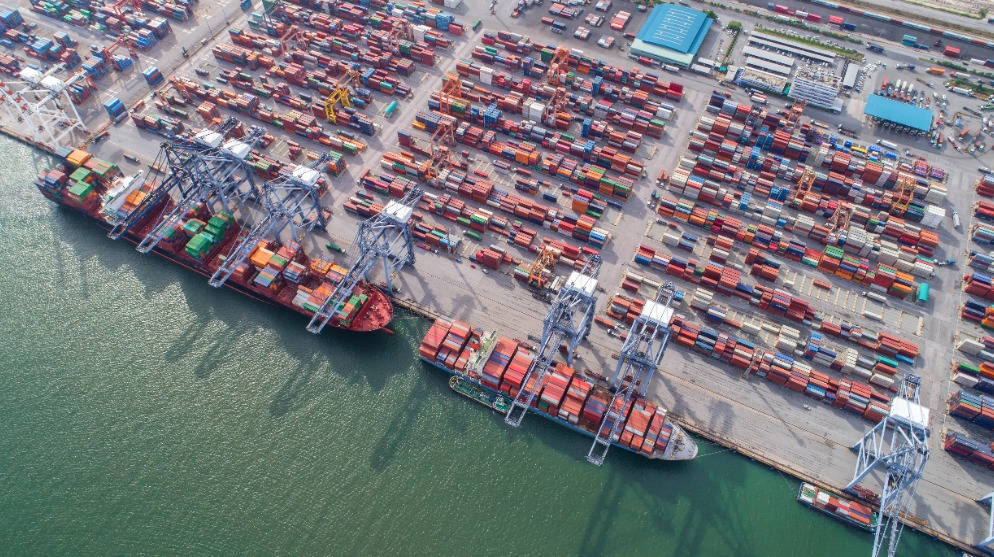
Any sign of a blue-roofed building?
Yes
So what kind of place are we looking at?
port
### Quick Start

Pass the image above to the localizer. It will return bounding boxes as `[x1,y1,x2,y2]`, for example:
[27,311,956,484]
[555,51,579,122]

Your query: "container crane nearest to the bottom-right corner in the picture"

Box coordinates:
[967,489,994,555]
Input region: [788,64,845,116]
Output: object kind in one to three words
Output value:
building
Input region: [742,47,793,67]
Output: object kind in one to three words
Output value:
shed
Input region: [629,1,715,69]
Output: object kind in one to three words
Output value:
building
